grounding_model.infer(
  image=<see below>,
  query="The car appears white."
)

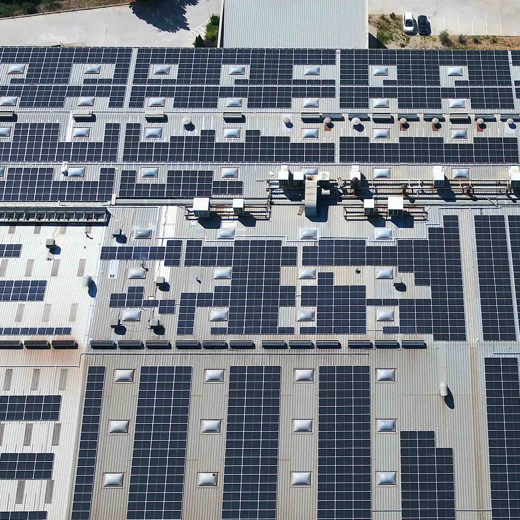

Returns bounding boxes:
[402,13,416,36]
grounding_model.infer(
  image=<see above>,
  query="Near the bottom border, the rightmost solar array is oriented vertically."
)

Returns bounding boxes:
[484,356,520,520]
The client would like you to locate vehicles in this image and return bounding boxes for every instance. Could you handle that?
[416,15,430,37]
[402,13,416,36]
